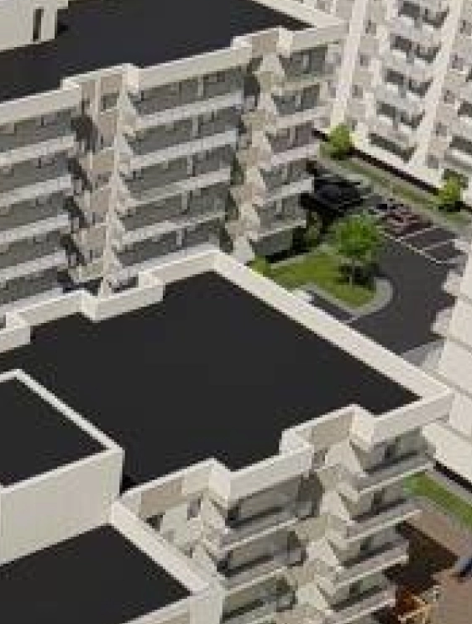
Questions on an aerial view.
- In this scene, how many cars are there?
three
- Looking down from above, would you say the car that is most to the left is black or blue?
black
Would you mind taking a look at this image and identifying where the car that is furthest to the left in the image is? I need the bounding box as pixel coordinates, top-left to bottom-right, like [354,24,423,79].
[326,177,373,206]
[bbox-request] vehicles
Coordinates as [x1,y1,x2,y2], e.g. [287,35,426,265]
[367,198,416,225]
[387,211,434,235]
[326,177,373,206]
